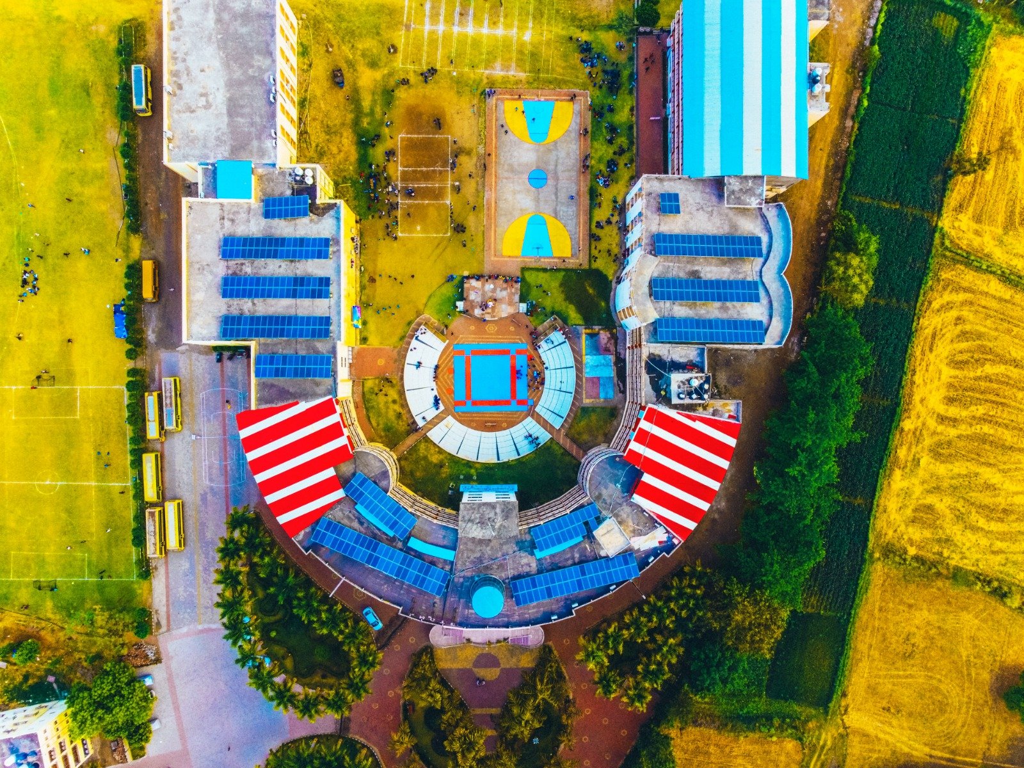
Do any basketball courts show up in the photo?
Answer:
Yes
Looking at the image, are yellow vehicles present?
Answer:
Yes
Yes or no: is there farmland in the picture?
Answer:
Yes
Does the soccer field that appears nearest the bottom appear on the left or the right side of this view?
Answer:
left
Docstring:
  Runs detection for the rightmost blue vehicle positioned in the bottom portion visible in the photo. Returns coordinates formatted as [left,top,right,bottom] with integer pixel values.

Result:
[363,605,381,629]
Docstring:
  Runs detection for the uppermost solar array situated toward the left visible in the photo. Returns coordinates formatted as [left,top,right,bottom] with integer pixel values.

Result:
[264,196,309,219]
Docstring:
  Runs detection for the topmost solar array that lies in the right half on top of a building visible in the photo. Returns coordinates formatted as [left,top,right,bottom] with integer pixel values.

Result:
[658,193,680,214]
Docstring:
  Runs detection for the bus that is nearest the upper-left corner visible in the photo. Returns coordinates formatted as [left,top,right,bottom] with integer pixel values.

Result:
[131,65,153,118]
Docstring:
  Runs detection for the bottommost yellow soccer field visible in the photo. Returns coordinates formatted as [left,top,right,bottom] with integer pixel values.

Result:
[0,386,137,580]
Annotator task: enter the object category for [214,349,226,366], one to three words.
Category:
vehicle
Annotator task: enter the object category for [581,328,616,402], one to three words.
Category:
sports court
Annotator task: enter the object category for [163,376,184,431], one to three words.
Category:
bus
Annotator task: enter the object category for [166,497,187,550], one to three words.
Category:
bus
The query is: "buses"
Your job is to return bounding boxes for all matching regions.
[163,376,184,431]
[131,65,153,118]
[142,260,163,303]
[147,390,168,441]
[166,497,187,550]
[145,450,166,502]
[147,504,168,557]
